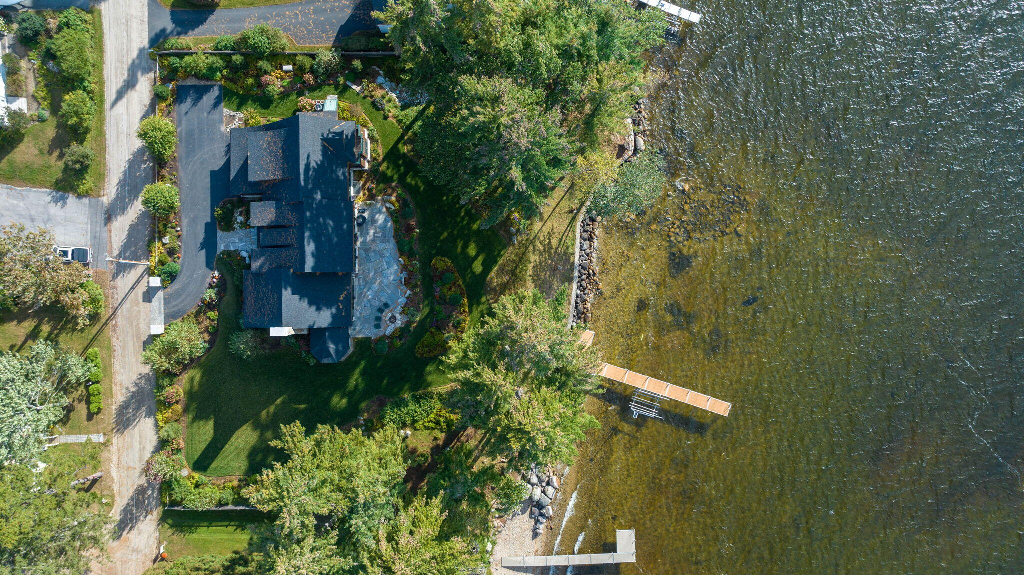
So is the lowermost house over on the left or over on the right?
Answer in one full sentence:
It is on the left.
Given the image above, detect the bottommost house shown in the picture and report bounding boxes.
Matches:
[230,110,374,366]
